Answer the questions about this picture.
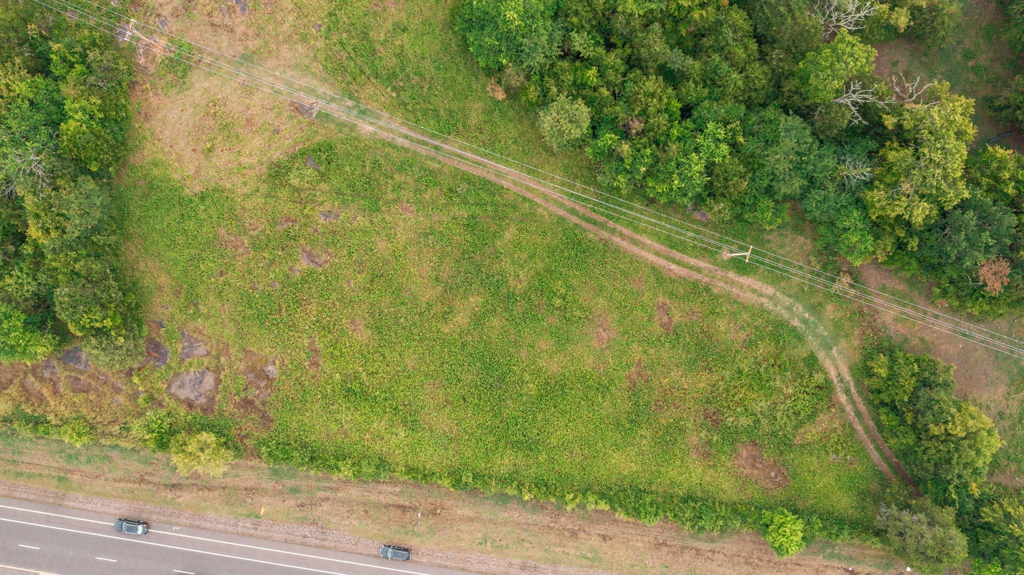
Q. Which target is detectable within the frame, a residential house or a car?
car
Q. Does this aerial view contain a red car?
No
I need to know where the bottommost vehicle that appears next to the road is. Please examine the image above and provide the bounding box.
[380,543,411,561]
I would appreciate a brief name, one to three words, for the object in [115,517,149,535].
car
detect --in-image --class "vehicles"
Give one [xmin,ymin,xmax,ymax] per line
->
[380,543,411,561]
[115,517,149,535]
